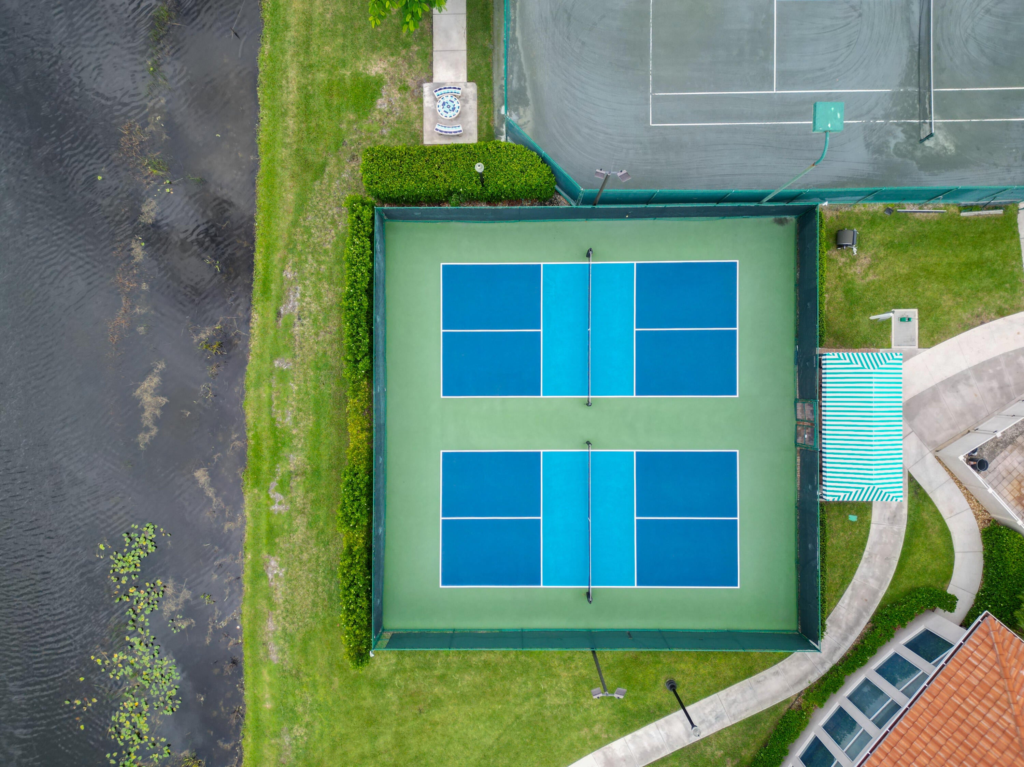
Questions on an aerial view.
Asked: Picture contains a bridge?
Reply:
No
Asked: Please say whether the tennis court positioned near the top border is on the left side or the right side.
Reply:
right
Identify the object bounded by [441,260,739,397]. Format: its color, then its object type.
blue sports court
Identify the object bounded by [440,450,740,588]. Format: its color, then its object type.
blue sports court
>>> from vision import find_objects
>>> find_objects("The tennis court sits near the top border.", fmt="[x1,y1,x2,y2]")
[494,0,1024,205]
